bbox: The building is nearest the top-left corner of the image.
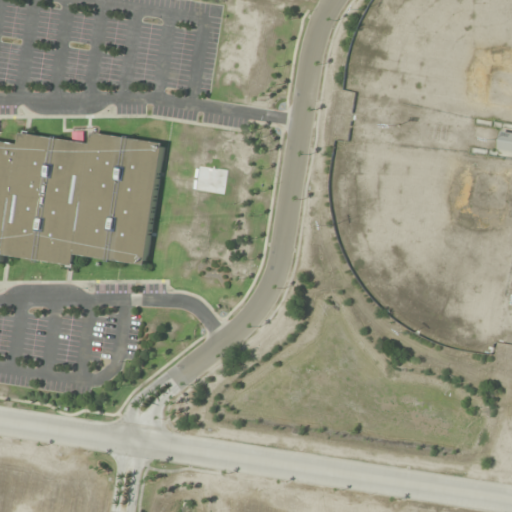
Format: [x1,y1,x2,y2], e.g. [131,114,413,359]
[0,131,166,268]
